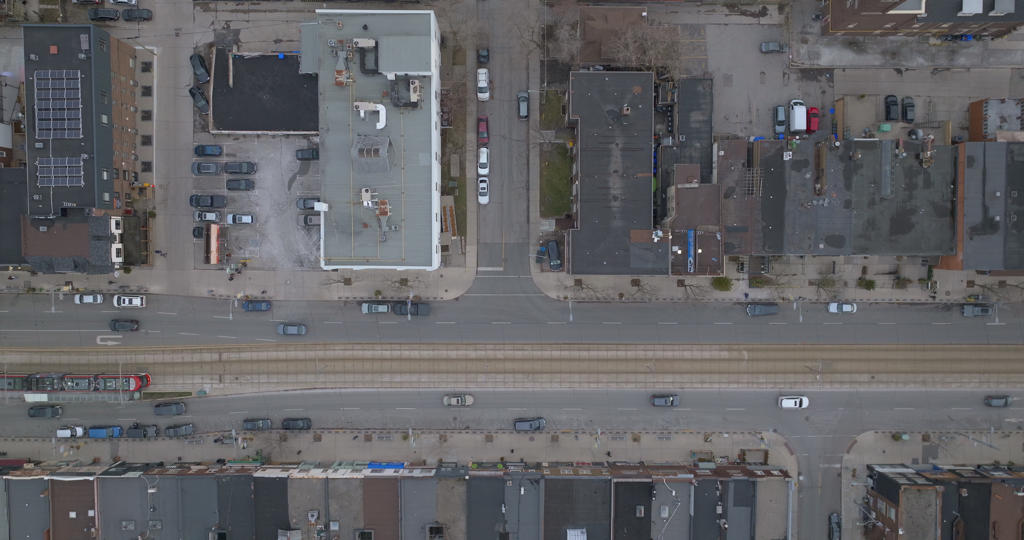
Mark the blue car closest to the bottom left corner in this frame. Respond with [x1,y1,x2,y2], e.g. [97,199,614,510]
[89,424,123,440]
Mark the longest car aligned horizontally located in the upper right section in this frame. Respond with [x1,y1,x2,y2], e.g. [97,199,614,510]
[760,40,789,54]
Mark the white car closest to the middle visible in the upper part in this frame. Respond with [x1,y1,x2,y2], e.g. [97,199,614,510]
[477,177,490,204]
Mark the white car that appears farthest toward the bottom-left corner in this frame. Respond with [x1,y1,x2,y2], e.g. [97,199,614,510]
[56,425,87,439]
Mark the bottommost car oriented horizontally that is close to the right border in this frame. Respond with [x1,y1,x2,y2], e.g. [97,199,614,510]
[983,395,1012,409]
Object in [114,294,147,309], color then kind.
white car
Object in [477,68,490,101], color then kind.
white vehicle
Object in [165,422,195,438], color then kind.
gray car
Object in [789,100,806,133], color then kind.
white vehicle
